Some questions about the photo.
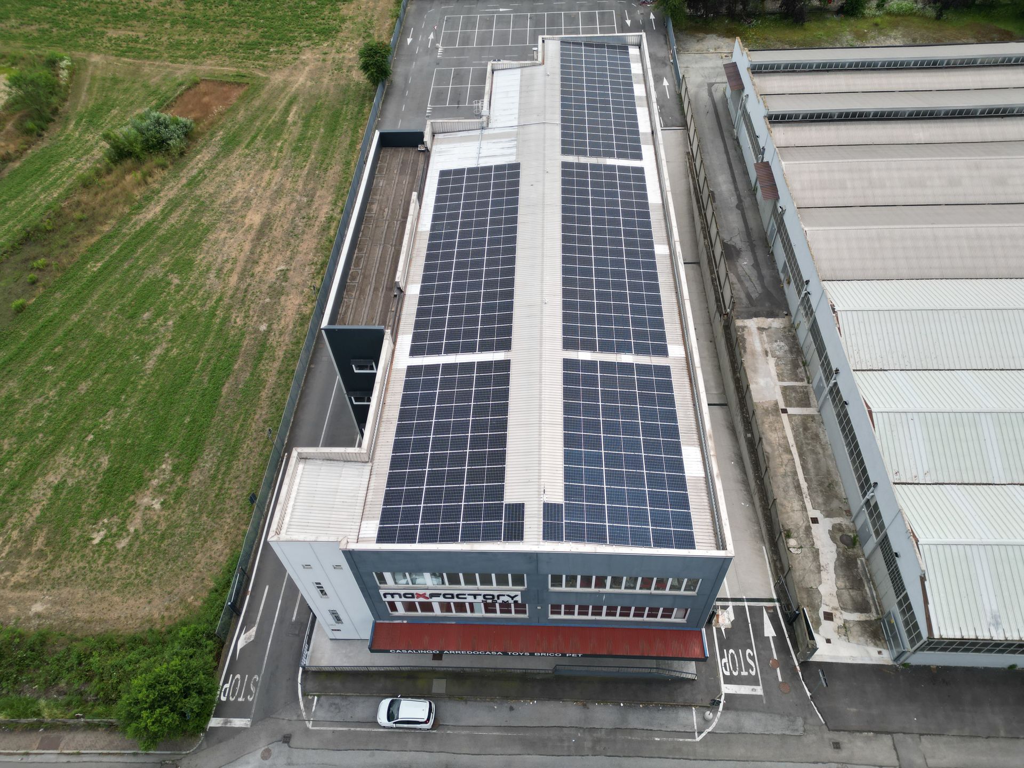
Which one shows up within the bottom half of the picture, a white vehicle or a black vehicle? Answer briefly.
white vehicle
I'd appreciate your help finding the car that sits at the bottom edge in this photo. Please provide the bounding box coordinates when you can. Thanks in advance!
[376,693,436,730]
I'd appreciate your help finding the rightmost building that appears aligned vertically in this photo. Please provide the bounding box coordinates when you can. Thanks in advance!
[723,36,1024,670]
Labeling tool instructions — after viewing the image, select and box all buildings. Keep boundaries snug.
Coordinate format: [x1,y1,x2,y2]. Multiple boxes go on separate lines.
[723,36,1024,670]
[269,32,735,664]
